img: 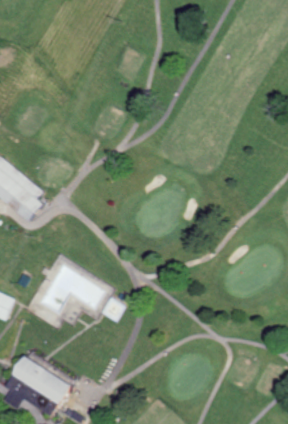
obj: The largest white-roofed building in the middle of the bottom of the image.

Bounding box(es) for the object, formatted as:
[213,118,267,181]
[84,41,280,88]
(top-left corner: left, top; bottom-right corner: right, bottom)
[102,297,126,322]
